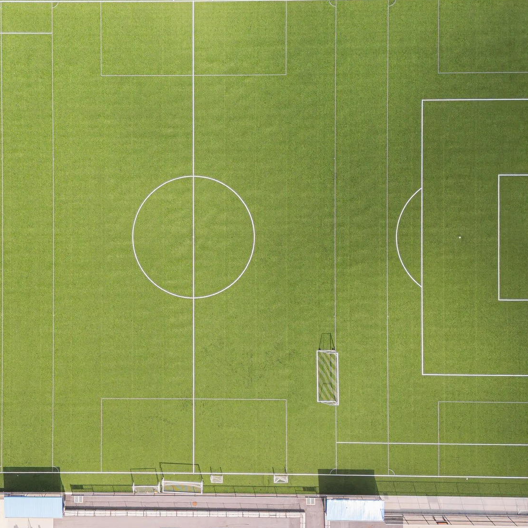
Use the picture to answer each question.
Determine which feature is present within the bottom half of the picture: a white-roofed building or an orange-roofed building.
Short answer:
white-roofed building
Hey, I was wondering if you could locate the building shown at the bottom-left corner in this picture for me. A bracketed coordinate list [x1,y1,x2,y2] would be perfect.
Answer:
[5,491,65,520]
